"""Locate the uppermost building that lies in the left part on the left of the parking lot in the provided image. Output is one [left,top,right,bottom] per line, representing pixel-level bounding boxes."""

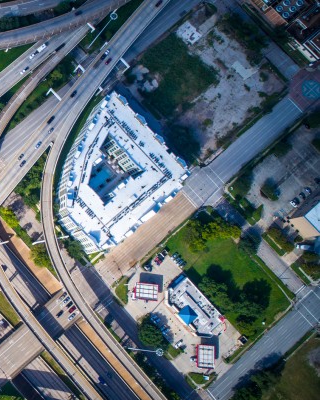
[62,92,189,252]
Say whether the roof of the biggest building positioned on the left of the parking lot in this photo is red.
No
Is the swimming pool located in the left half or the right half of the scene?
left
